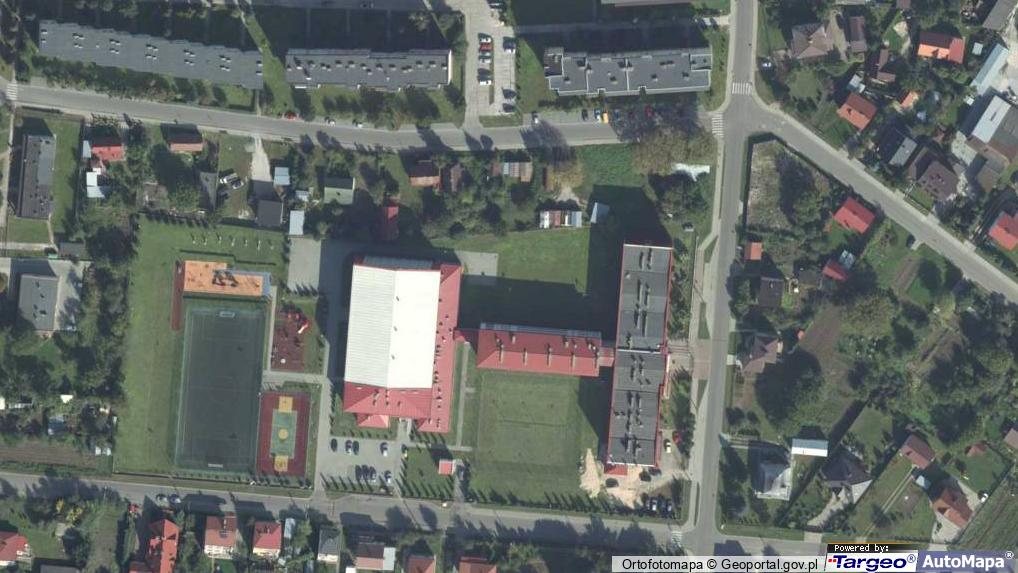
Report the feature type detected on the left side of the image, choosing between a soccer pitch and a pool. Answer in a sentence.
Visible on the left side of the image is a soccer pitch.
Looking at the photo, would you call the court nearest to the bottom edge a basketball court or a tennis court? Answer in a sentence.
The court nearest to the bottom edge appears to be a basketball court.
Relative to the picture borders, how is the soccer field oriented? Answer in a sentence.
From this overhead view, the soccer field appears to run up and down.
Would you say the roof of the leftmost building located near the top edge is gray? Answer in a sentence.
Yes, the roof of the leftmost building located near the top edge is indeed gray.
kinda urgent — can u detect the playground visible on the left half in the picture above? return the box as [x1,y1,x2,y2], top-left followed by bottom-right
[271,303,305,372]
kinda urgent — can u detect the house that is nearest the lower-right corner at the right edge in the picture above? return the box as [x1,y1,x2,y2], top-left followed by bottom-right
[933,486,973,529]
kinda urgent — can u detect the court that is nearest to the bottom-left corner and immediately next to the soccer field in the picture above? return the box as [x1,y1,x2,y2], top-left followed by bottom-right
[256,392,309,475]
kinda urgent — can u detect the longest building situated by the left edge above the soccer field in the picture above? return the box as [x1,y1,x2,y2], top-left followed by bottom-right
[39,20,265,93]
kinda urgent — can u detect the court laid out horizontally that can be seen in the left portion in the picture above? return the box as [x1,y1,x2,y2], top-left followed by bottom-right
[183,261,270,297]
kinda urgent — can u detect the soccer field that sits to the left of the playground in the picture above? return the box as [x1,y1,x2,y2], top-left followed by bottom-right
[175,300,267,473]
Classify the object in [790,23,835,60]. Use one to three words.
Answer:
house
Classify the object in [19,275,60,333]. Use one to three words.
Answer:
building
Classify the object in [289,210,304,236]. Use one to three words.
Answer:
shed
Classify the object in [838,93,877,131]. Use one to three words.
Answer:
house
